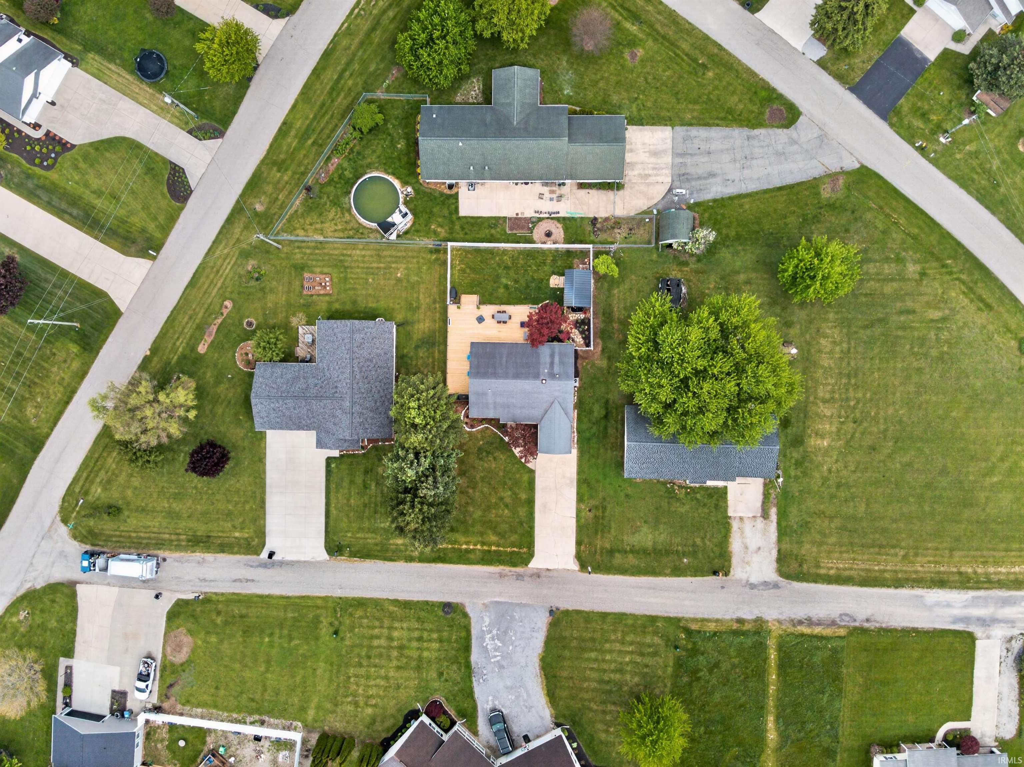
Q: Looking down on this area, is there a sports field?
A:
No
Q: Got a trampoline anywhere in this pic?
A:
Yes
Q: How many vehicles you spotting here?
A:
three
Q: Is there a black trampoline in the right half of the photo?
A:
No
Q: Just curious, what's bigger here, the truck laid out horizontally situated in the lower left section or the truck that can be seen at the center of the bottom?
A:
the truck laid out horizontally situated in the lower left section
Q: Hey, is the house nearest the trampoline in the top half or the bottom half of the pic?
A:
top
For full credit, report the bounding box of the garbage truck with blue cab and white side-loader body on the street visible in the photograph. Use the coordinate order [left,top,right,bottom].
[80,548,164,577]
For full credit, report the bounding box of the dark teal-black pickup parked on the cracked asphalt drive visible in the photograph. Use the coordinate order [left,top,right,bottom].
[488,708,514,755]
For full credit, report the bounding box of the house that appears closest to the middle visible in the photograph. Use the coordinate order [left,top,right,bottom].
[469,342,575,455]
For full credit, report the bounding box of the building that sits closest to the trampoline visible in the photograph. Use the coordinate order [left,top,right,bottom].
[0,13,76,124]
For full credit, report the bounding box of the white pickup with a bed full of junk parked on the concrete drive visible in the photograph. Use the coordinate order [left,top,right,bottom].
[133,655,158,701]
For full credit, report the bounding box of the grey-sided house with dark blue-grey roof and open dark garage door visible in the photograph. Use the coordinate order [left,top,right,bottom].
[51,708,142,767]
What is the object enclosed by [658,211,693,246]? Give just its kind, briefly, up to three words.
shed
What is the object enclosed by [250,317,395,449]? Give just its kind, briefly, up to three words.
house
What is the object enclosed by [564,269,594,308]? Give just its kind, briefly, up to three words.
building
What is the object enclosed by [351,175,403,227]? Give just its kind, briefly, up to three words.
swimming pool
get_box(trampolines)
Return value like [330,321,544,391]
[134,48,169,84]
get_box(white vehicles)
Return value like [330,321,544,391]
[133,655,158,701]
[80,548,164,577]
